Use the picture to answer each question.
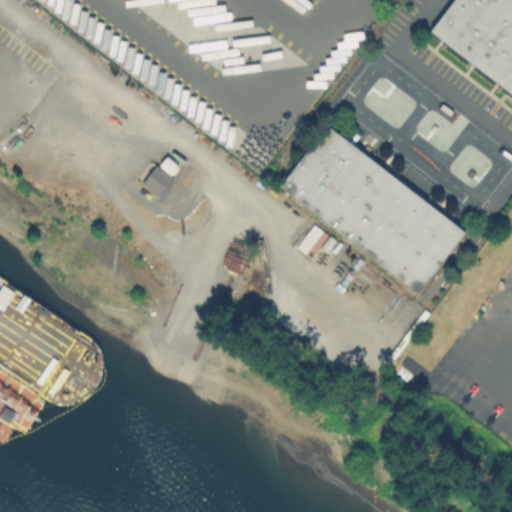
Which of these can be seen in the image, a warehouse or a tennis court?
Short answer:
warehouse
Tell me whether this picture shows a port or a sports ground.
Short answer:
port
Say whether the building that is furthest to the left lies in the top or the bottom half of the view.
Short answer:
top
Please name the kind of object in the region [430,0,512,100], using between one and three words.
building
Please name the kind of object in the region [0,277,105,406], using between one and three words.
ship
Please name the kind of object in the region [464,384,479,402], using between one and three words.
vehicle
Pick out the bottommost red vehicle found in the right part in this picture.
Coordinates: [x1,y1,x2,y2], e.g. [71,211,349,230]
[487,406,503,423]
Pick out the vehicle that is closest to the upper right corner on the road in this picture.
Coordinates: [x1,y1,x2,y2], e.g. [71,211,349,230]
[440,104,455,118]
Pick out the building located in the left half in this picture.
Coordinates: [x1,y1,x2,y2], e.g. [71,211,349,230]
[145,156,181,196]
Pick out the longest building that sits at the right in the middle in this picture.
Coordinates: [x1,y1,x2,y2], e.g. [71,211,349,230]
[285,127,466,294]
